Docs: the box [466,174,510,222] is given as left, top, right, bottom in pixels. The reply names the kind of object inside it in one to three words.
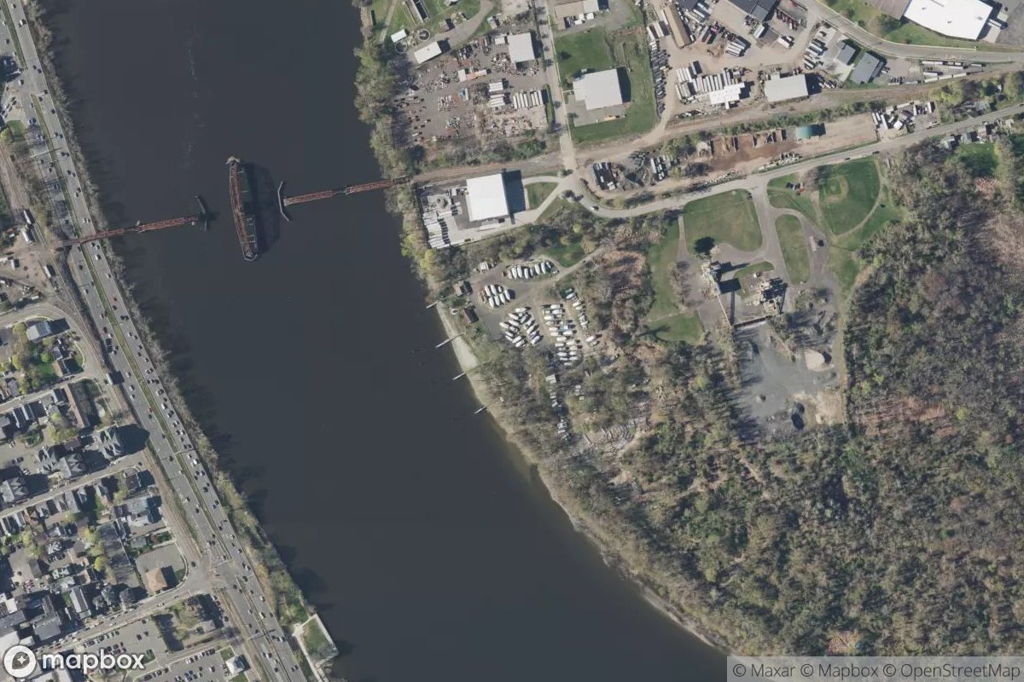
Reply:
building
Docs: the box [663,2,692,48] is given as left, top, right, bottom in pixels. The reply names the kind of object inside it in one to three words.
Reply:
shed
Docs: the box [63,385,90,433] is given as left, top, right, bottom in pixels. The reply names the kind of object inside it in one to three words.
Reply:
house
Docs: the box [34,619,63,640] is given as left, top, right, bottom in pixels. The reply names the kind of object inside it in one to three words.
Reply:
building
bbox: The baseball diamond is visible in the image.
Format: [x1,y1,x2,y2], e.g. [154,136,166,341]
[819,157,882,239]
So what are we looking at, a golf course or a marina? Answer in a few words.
marina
